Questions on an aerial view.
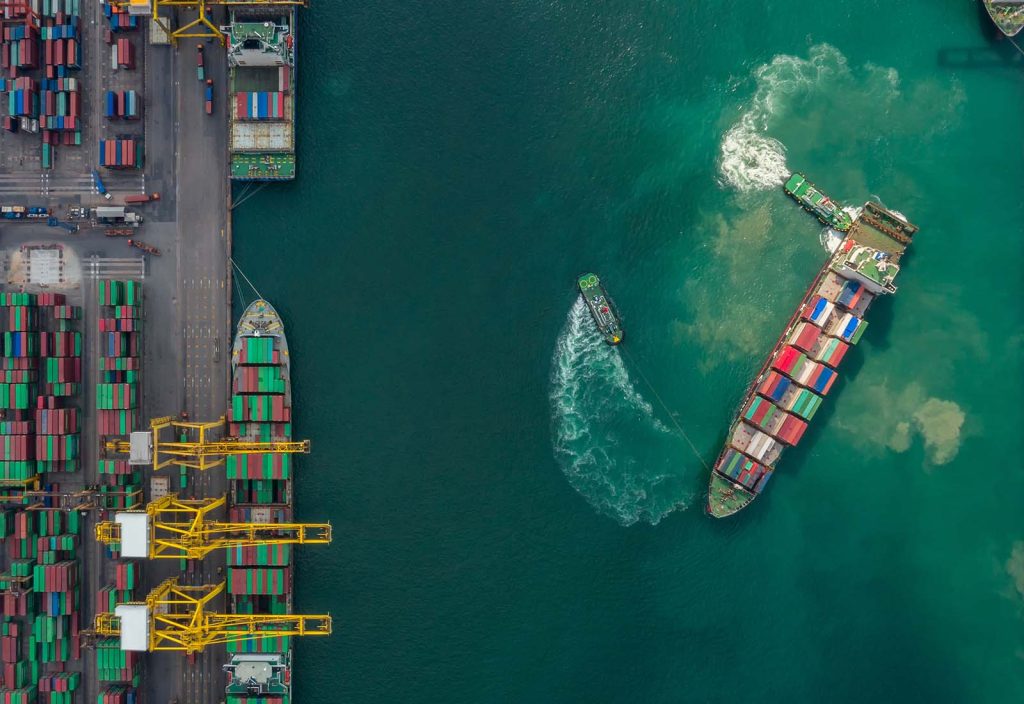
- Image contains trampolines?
No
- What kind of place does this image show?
port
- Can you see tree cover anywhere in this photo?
No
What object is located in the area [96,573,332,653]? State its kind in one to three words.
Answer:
container crane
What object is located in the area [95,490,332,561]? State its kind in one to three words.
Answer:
container crane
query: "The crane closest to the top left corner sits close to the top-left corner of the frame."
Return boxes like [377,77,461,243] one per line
[0,2,40,36]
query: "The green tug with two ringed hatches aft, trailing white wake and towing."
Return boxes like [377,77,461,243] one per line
[577,270,622,345]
